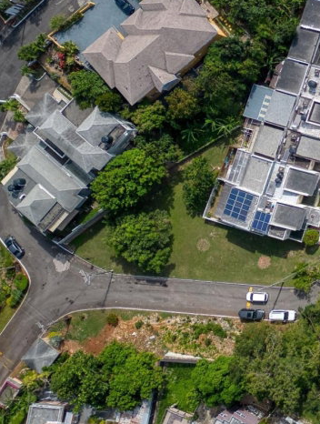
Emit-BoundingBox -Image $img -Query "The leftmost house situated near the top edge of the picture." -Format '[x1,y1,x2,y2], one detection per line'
[82,0,226,105]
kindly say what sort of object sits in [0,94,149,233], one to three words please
house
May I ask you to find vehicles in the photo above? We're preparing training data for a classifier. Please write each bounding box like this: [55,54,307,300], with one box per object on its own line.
[114,0,138,18]
[238,309,266,321]
[2,235,28,261]
[268,310,297,322]
[246,292,269,303]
